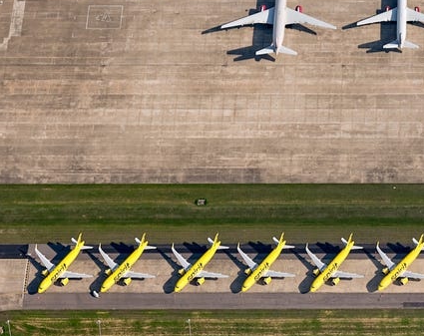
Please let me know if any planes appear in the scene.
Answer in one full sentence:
Yes, a plane can be made out from above.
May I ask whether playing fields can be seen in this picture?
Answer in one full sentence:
No, this view has no playing field in it.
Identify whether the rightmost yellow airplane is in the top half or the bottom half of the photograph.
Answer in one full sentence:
You can find the rightmost yellow airplane in the bottom half.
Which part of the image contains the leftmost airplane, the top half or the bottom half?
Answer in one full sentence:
You can find the leftmost airplane in the bottom half.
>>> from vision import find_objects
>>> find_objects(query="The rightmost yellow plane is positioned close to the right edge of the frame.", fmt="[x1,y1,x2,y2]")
[376,234,424,290]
